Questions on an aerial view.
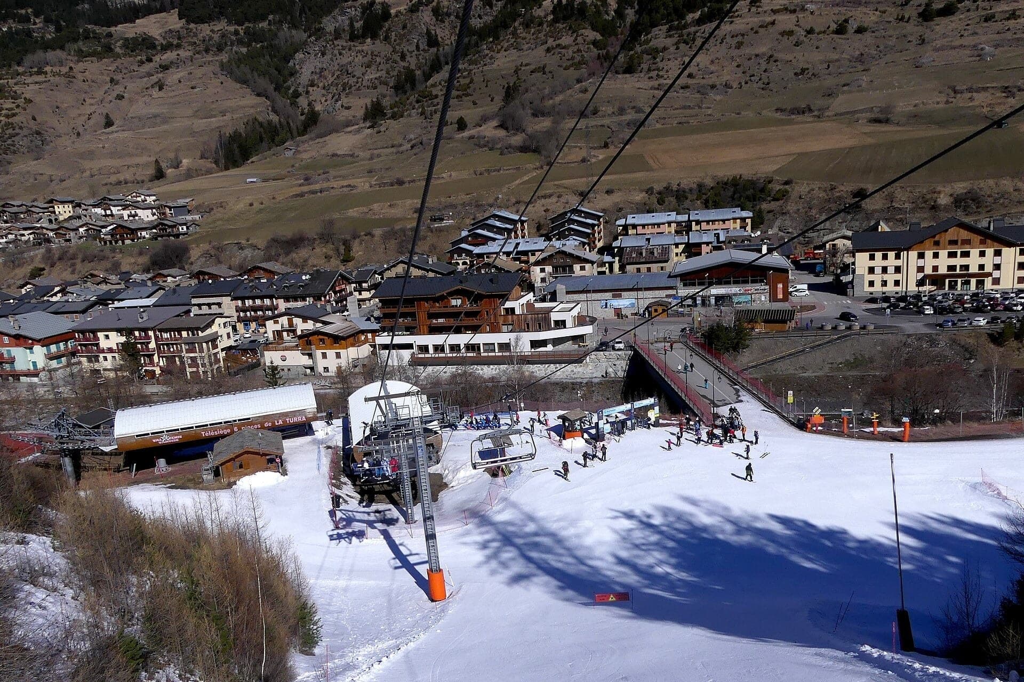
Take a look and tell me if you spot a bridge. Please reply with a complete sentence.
Yes, this view includes a bridge.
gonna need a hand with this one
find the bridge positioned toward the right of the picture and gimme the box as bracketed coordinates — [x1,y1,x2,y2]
[636,334,799,421]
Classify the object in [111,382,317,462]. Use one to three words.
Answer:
building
